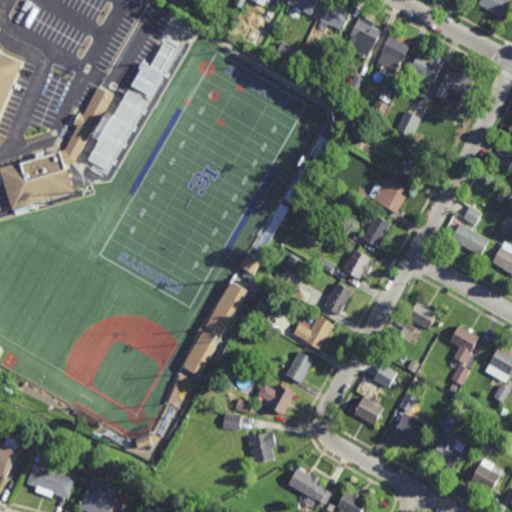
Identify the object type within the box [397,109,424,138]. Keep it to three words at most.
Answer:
building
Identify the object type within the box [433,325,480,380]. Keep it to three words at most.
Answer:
house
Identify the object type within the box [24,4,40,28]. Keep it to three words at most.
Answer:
vehicle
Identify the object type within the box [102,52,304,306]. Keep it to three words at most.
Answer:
sports field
